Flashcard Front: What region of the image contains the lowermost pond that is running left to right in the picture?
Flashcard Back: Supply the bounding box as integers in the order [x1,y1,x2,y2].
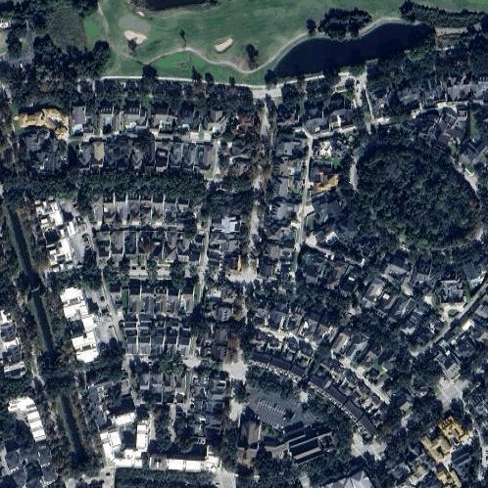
[273,23,432,73]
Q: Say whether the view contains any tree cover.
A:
Yes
